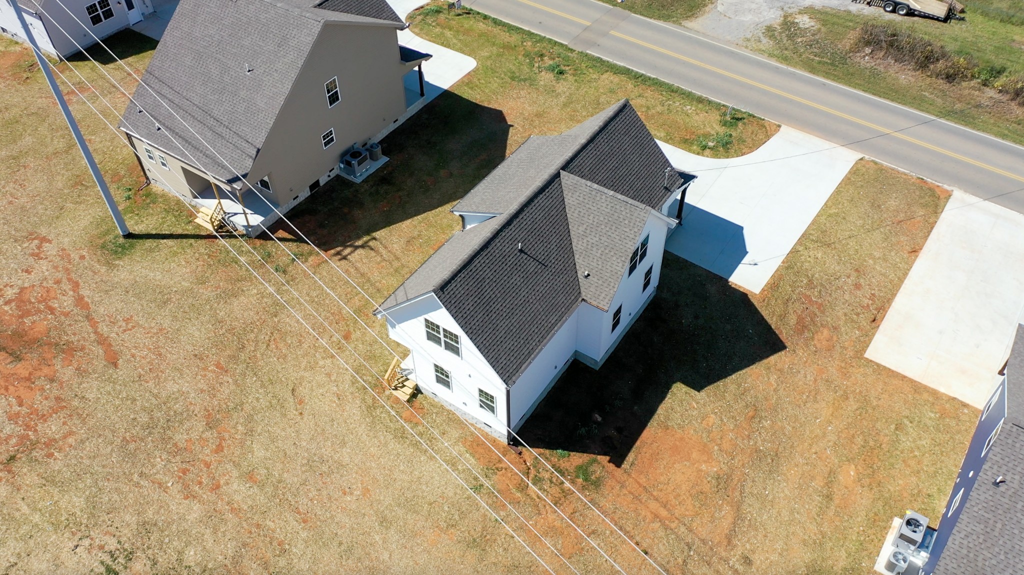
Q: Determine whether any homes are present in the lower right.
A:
Yes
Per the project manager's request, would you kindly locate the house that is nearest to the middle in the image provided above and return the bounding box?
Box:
[372,99,698,446]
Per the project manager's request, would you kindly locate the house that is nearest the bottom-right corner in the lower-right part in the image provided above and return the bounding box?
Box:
[924,332,1024,575]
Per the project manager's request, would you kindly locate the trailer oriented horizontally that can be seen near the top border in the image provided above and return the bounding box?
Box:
[866,0,970,26]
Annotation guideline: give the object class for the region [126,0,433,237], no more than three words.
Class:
house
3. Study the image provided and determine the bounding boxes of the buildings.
[924,332,1024,575]
[0,0,153,63]
[372,99,698,446]
[126,0,433,237]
